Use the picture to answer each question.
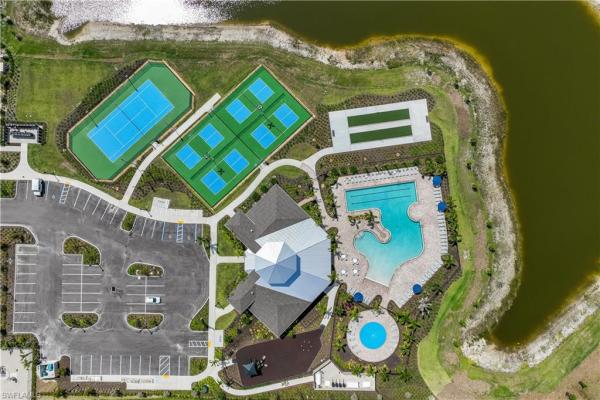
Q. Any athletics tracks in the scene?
No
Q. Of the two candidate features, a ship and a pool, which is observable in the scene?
pool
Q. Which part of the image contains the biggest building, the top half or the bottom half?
bottom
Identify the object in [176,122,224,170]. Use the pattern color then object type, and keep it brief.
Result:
blue sports court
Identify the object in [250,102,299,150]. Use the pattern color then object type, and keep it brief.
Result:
blue sports court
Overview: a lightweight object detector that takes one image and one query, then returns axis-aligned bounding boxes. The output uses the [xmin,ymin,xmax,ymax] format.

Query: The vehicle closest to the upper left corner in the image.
[32,178,46,197]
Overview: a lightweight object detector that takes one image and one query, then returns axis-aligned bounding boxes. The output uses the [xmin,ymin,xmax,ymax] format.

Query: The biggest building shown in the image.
[224,184,332,339]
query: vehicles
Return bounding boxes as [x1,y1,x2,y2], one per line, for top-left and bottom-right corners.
[146,295,162,303]
[32,178,46,197]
